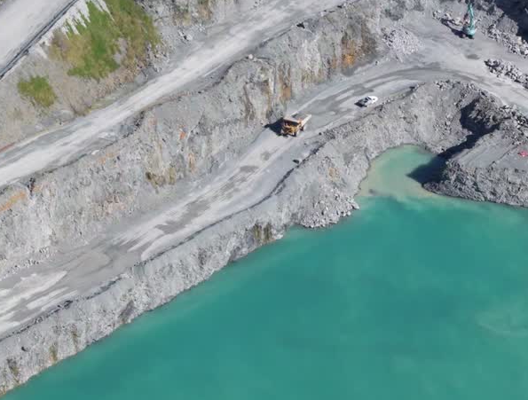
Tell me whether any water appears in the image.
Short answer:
Yes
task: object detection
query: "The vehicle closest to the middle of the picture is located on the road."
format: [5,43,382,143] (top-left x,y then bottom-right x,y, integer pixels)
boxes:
[281,106,315,136]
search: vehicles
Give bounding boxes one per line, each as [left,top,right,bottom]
[281,106,315,136]
[464,10,477,39]
[357,95,377,105]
